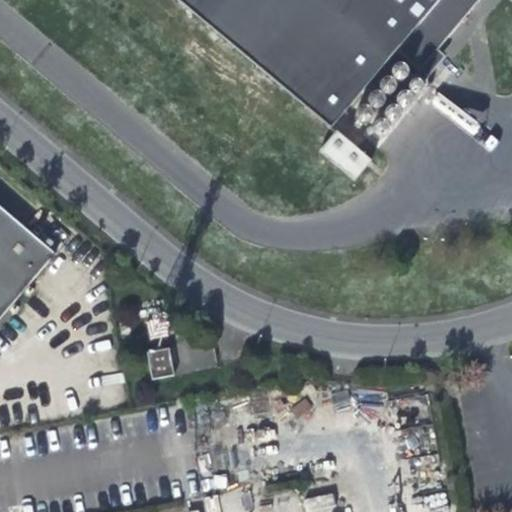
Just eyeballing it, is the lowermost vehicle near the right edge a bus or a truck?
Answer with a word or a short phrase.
truck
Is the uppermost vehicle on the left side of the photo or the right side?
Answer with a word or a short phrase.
right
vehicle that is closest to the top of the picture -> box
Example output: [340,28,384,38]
[441,56,462,77]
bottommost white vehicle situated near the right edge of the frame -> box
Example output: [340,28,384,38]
[431,96,496,152]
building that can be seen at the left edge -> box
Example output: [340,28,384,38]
[0,206,54,318]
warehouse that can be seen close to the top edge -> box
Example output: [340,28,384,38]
[176,0,444,129]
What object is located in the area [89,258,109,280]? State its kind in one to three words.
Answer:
car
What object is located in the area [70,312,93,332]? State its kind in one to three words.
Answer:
car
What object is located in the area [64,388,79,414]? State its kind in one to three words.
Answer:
vehicle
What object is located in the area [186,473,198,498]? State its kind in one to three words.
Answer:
vehicle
